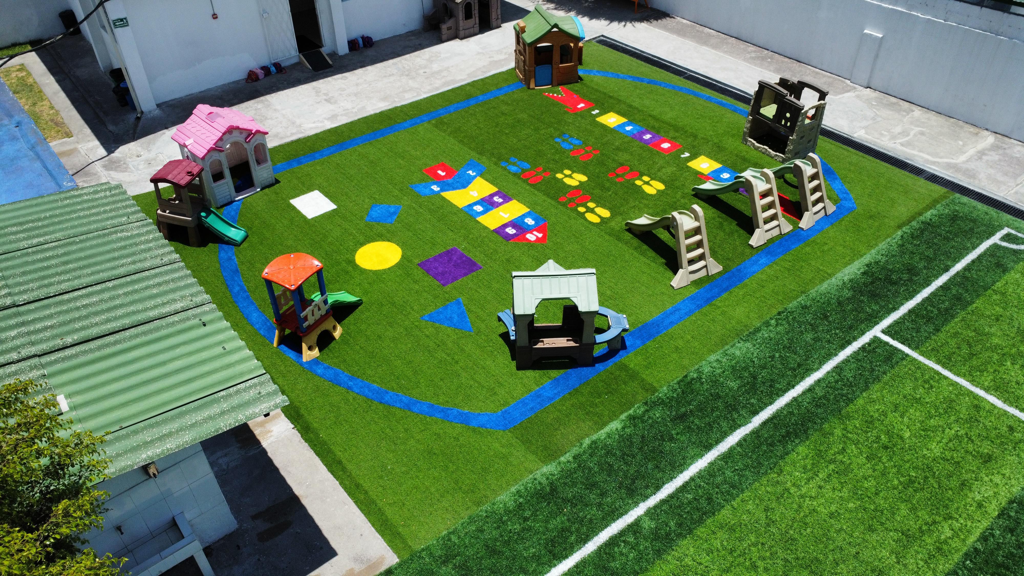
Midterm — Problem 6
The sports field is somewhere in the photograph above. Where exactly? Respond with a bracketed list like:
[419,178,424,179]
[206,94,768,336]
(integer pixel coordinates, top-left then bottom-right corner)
[376,192,1024,576]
